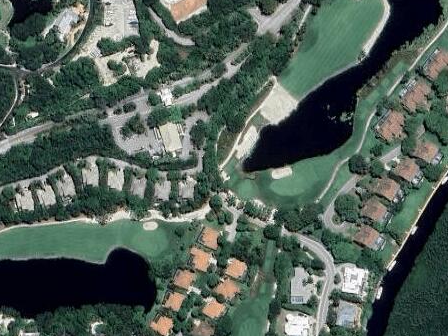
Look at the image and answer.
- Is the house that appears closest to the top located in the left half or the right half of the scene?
left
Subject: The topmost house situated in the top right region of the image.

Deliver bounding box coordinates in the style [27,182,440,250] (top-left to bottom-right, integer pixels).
[424,50,448,82]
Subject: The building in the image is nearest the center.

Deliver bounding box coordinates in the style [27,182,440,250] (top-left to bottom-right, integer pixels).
[179,176,196,200]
